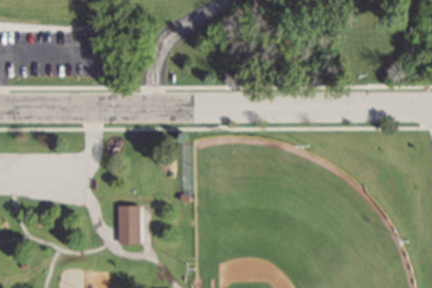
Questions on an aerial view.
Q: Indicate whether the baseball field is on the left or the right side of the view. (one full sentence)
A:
The baseball field appears in the right half of the scene.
